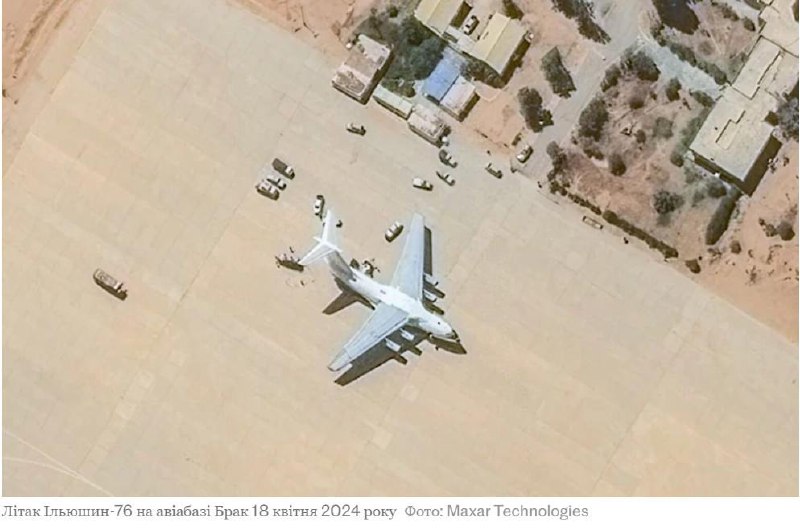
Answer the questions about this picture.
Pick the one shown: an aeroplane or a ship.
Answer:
aeroplane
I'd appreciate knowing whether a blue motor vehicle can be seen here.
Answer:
No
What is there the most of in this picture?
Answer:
paved ground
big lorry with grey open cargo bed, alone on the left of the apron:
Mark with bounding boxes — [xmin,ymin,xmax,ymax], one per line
[93,267,125,296]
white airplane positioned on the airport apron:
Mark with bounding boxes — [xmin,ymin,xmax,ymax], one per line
[300,209,461,371]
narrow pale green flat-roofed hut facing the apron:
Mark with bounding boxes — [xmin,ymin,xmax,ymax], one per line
[373,84,412,120]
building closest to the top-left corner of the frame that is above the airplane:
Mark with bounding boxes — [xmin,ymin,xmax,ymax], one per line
[333,35,391,104]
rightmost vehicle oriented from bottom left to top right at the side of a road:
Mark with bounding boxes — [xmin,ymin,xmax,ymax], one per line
[516,144,532,163]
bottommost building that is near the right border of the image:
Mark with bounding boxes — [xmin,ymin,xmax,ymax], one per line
[689,85,777,192]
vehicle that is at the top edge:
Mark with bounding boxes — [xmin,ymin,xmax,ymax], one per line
[461,15,476,34]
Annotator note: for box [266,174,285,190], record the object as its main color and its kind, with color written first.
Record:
white vehicle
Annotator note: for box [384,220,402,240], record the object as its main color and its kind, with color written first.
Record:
white car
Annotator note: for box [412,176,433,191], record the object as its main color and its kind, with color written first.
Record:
white vehicle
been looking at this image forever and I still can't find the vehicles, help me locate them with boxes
[266,174,285,190]
[93,267,125,296]
[461,15,476,34]
[346,121,366,135]
[270,156,296,180]
[274,252,302,270]
[437,170,455,187]
[484,163,503,179]
[412,176,433,191]
[384,220,402,240]
[437,148,457,167]
[337,220,343,229]
[256,178,279,199]
[516,144,532,163]
[314,195,323,217]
